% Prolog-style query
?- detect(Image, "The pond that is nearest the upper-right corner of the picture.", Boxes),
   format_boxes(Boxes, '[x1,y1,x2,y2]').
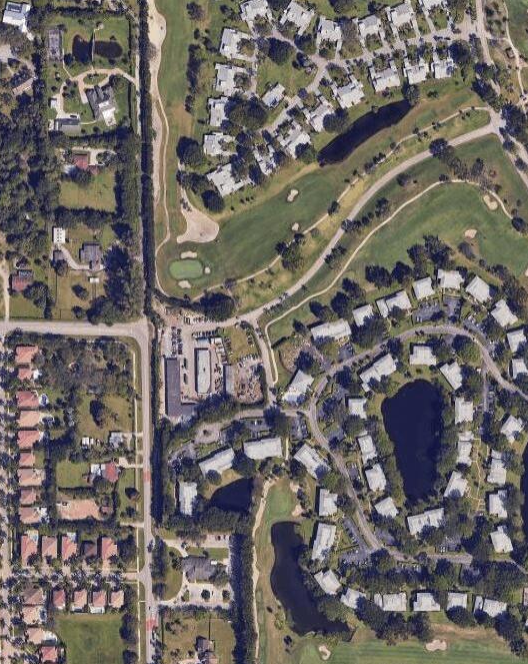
[315,99,411,164]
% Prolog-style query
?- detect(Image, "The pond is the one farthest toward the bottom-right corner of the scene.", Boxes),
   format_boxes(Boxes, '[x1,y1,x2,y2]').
[269,520,355,639]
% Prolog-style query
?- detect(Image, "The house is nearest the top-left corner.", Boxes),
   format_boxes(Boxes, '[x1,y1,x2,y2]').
[3,1,29,31]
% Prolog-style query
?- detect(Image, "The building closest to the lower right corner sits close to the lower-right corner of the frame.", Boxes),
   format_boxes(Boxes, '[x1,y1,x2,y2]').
[473,596,507,619]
